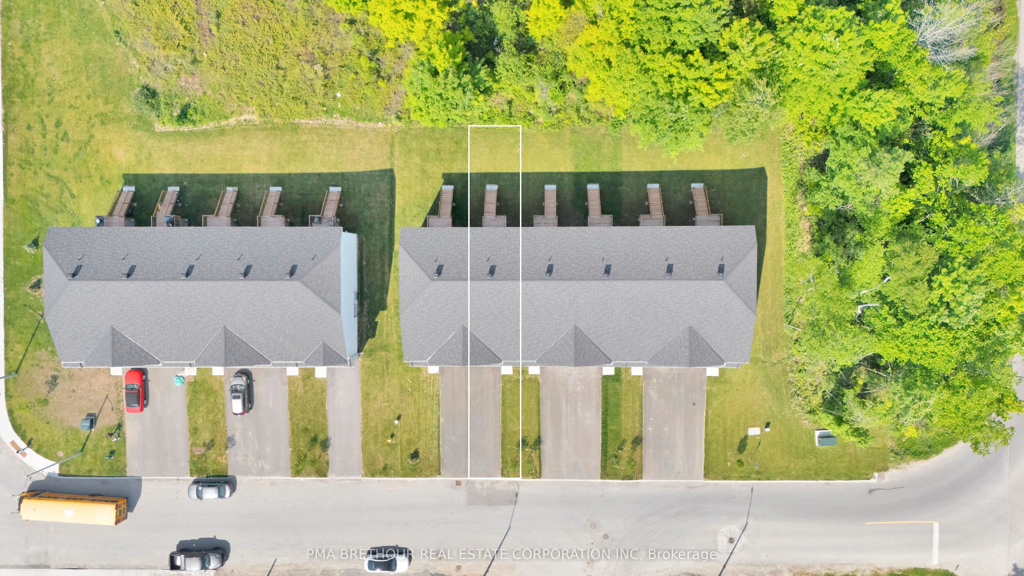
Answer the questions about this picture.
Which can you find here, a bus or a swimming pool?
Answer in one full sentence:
Visible in the photo is a bus.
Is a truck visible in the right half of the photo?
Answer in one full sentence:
No, there's no truck to be seen in the right half of the photo.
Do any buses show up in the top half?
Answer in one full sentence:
No, there's no bus to be seen in the top half.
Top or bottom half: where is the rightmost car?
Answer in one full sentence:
The bottom half of the photo is where the rightmost car is.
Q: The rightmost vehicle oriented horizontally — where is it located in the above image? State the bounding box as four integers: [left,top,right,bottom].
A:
[364,552,409,574]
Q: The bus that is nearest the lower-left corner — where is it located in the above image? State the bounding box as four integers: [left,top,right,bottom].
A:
[16,489,129,525]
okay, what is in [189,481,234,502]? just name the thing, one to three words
car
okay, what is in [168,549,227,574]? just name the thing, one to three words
truck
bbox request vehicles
[16,489,129,525]
[228,373,251,416]
[364,552,409,574]
[168,549,227,574]
[122,369,146,414]
[189,481,234,502]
